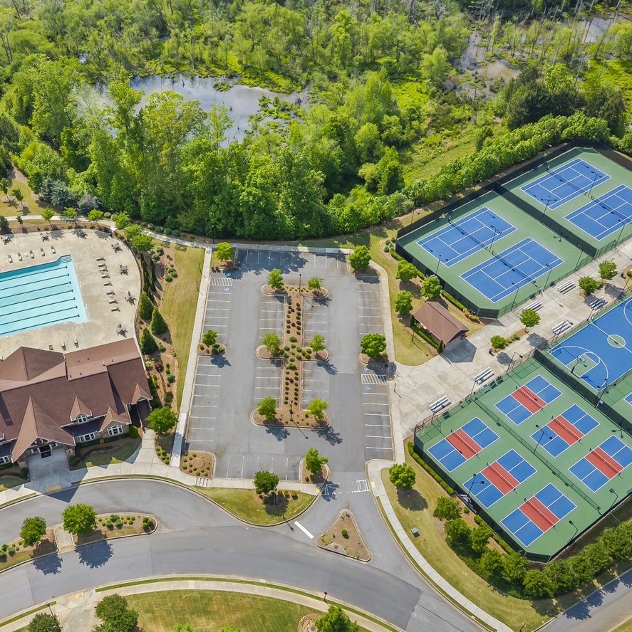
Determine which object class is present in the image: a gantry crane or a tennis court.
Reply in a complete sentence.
There is a tennis court in the scene.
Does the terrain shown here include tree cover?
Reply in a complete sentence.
Yes, the picture does contain tree cover.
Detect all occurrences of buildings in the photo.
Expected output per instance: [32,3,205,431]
[414,302,470,352]
[0,338,154,472]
